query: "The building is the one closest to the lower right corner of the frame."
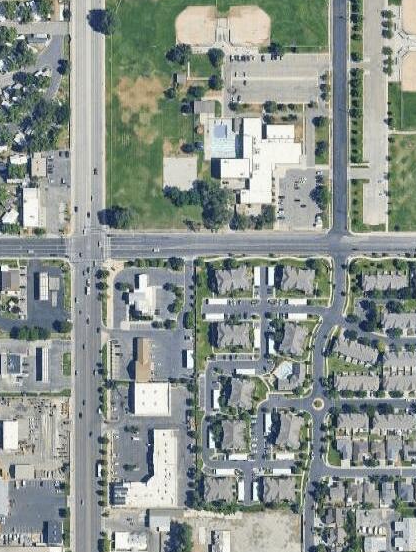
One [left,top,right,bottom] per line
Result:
[400,518,416,552]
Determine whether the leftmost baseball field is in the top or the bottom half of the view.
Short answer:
top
